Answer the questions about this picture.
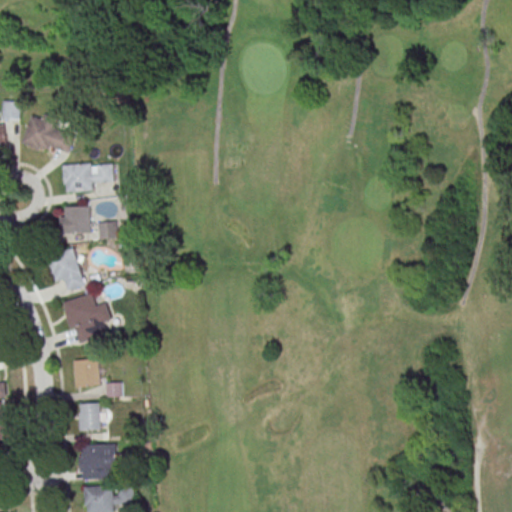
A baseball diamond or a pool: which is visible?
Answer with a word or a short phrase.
pool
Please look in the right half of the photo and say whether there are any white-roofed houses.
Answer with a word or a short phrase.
No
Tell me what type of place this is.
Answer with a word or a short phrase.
golf course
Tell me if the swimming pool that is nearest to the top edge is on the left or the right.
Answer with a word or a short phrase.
left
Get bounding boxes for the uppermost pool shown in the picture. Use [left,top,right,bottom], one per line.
[92,197,124,222]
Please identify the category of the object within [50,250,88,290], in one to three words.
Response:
house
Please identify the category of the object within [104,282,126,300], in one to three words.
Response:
swimming pool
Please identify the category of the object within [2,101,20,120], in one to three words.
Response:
building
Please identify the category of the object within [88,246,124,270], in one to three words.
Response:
swimming pool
